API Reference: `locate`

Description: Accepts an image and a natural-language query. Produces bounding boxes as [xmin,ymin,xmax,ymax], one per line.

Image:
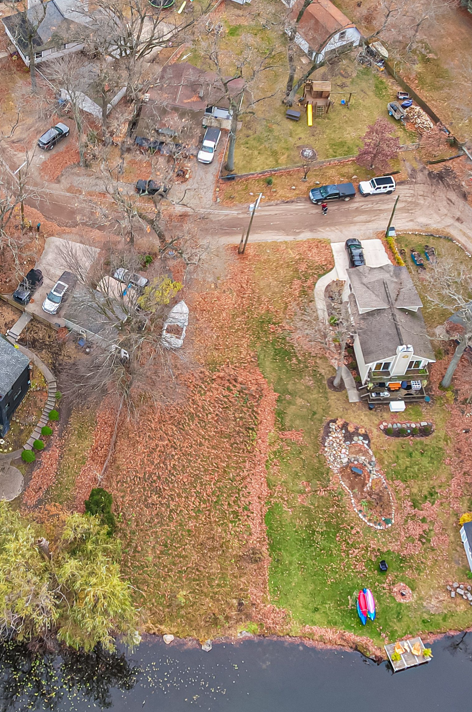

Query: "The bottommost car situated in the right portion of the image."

[345,237,366,270]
